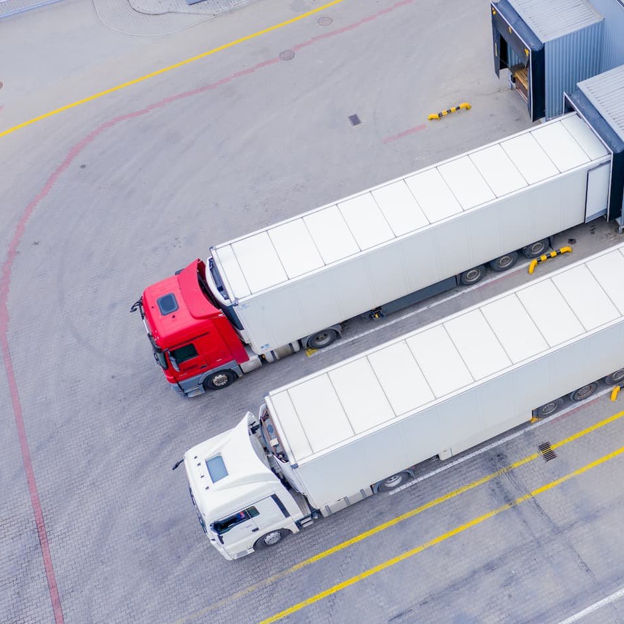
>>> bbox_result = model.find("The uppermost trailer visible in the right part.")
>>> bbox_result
[207,112,610,355]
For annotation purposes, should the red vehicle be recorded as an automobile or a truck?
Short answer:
truck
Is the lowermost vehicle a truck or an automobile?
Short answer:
truck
